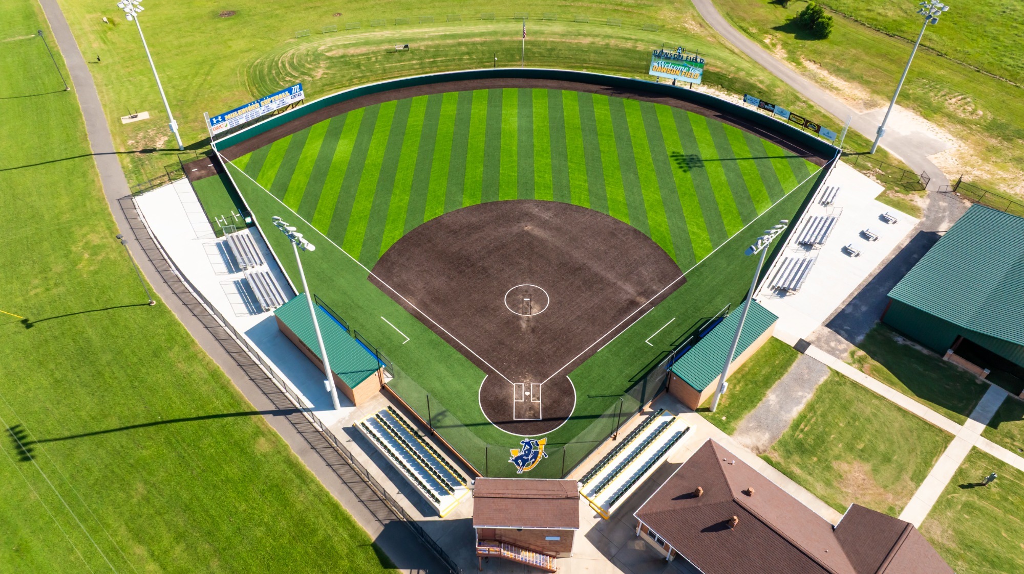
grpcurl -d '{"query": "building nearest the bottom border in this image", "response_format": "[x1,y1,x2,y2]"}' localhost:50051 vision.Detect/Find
[631,437,961,574]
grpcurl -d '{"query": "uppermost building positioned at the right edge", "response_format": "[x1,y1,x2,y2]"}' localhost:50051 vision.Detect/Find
[880,203,1024,404]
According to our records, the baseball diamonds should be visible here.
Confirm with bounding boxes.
[218,78,836,478]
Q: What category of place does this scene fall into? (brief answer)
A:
sports ground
